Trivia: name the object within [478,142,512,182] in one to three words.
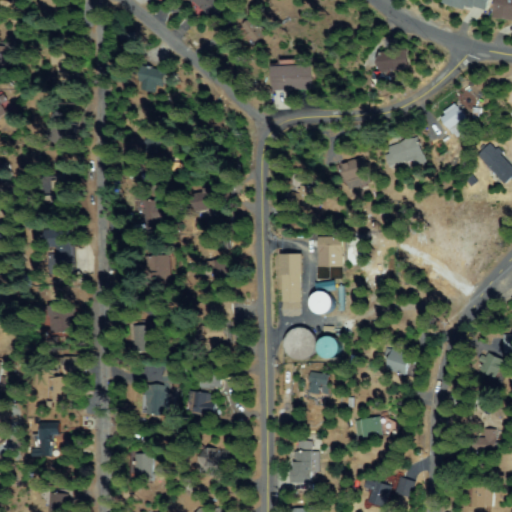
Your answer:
house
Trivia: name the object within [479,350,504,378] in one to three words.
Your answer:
house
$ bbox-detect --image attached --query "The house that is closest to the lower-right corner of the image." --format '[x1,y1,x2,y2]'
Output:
[473,428,500,449]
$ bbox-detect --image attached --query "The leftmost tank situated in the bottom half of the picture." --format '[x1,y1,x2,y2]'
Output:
[284,326,318,360]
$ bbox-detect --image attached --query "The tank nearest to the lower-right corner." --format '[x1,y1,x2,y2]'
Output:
[316,334,342,360]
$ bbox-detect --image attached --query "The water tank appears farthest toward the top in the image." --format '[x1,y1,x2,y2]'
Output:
[308,290,336,315]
